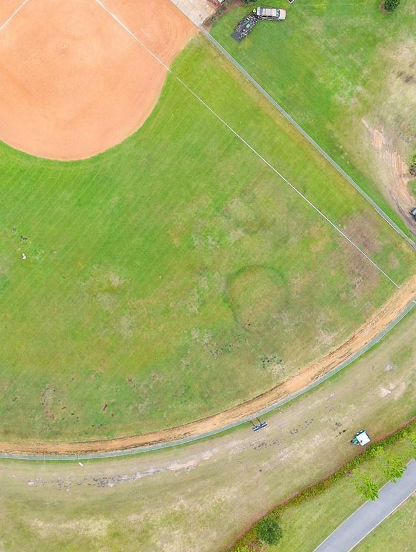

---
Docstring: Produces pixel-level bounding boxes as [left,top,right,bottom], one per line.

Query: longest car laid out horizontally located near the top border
[257,6,287,21]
